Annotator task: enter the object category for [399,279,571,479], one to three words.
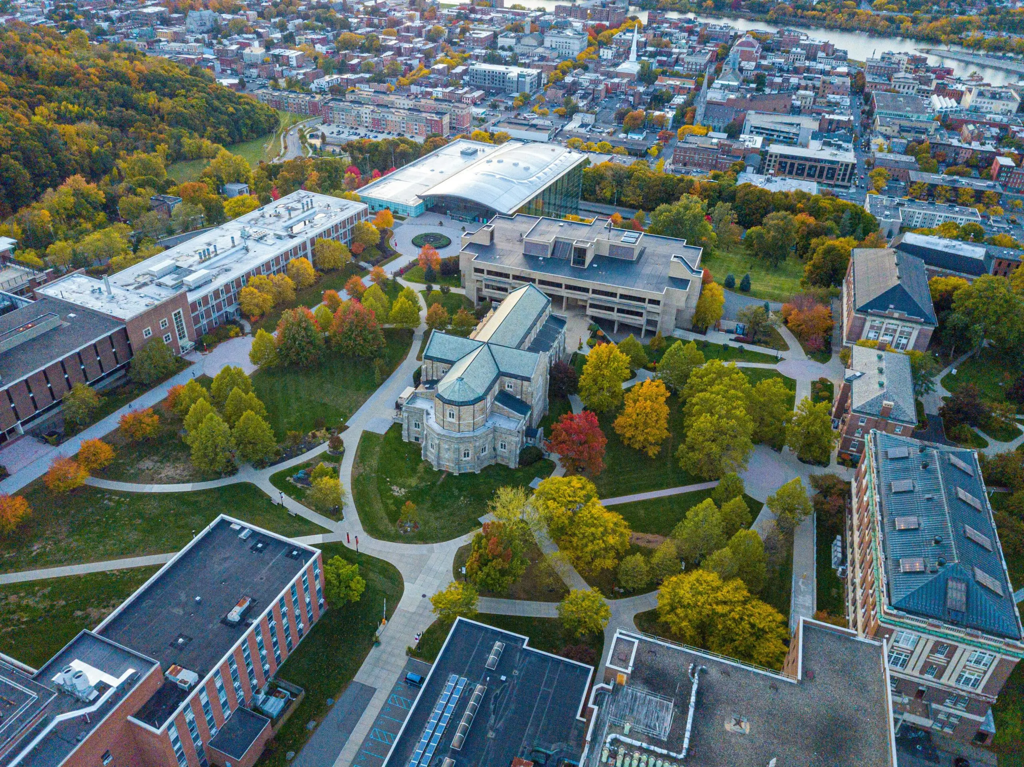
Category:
church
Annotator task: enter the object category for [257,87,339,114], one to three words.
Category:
building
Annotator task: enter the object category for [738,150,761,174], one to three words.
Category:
house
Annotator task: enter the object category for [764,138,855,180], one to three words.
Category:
building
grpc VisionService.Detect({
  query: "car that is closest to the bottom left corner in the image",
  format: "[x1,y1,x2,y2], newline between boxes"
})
[400,671,427,689]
